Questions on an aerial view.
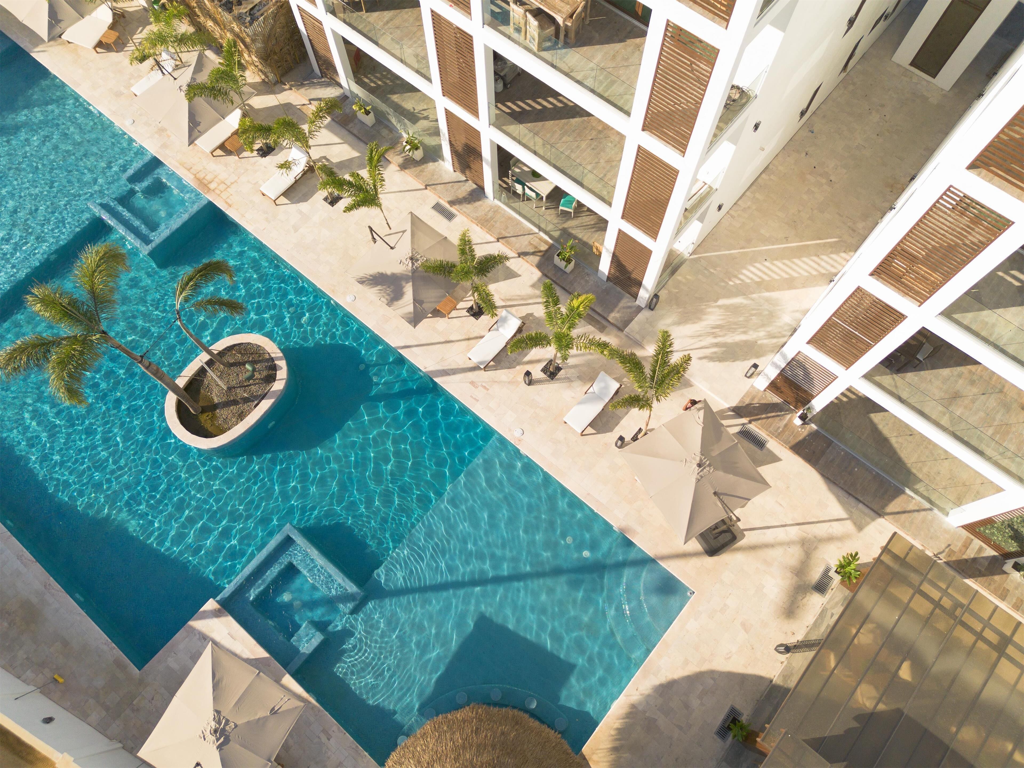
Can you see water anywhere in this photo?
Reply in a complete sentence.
Yes, the picture does contain water.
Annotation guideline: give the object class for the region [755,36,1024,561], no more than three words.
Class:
building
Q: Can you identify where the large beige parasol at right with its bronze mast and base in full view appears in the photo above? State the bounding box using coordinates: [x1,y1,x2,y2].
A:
[619,399,771,551]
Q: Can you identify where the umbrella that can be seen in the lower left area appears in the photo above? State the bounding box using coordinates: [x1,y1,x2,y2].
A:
[138,641,307,768]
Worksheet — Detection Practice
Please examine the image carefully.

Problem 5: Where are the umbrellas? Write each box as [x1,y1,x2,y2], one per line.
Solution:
[131,52,257,147]
[346,212,478,329]
[0,0,104,43]
[619,399,771,551]
[138,641,307,768]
